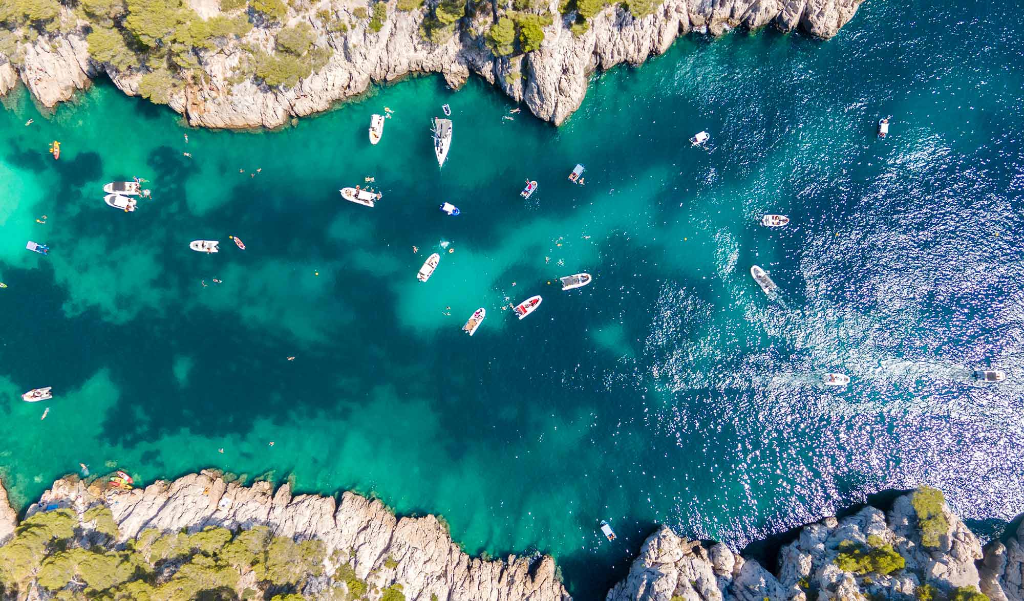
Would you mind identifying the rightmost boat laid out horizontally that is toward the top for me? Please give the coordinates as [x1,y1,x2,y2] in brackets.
[758,214,791,227]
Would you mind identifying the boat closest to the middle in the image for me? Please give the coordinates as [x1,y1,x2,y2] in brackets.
[514,293,546,319]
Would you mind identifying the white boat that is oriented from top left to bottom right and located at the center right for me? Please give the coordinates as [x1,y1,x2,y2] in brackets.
[752,264,777,294]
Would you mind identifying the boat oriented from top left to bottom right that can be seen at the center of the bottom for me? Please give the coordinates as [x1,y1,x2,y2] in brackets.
[601,521,619,544]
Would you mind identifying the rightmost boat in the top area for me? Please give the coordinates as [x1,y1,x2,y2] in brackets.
[878,117,891,141]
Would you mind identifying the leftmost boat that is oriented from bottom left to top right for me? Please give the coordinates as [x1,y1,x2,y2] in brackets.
[416,244,443,282]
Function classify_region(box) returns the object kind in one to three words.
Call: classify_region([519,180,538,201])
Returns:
boat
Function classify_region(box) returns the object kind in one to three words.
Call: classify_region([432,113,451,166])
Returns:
boat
